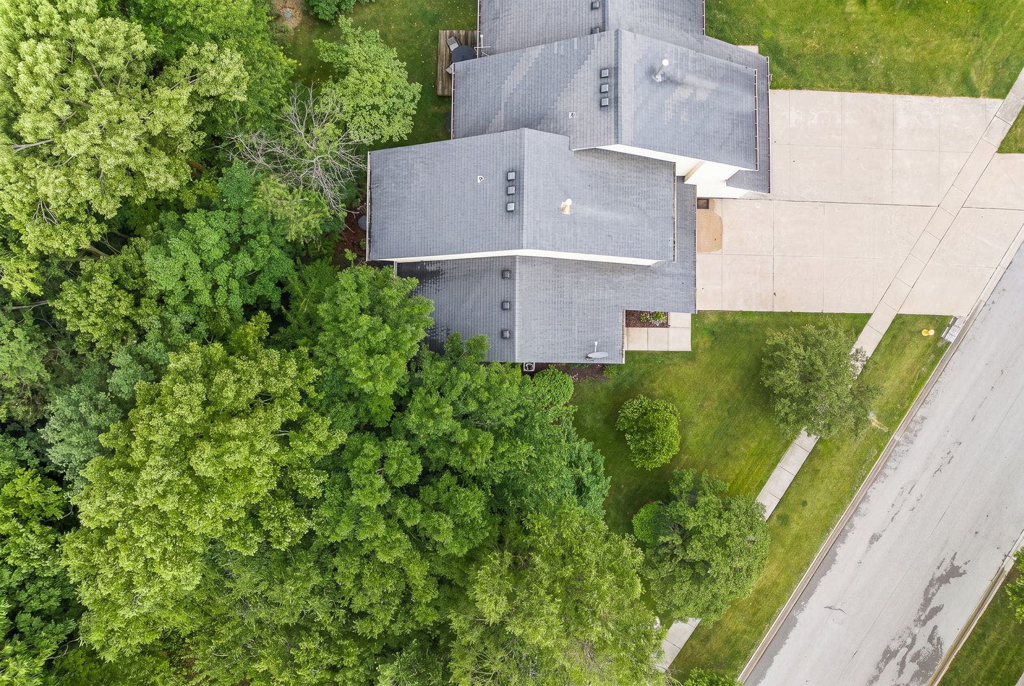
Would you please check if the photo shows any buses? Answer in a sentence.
No, no bus can be seen from above.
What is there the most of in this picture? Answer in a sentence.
The largest share of the image is taken up by trees.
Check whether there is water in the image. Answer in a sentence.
No, there is no water in the image.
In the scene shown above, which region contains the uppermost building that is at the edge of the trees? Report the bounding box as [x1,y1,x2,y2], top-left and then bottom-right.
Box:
[453,0,770,198]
